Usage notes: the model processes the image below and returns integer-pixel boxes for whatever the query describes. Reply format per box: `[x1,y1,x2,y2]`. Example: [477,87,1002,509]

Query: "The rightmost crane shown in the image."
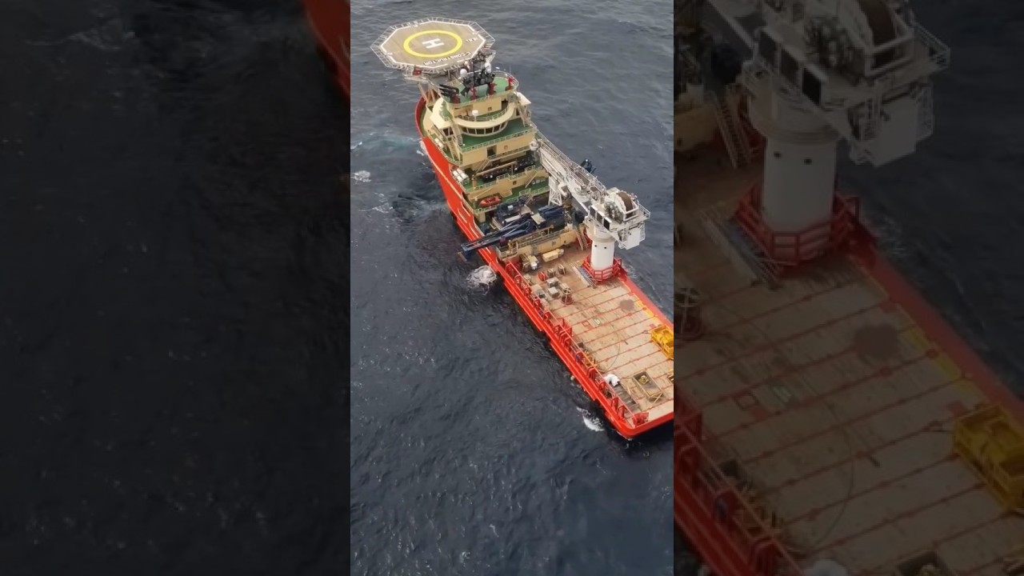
[529,135,653,281]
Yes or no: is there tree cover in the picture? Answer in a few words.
No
